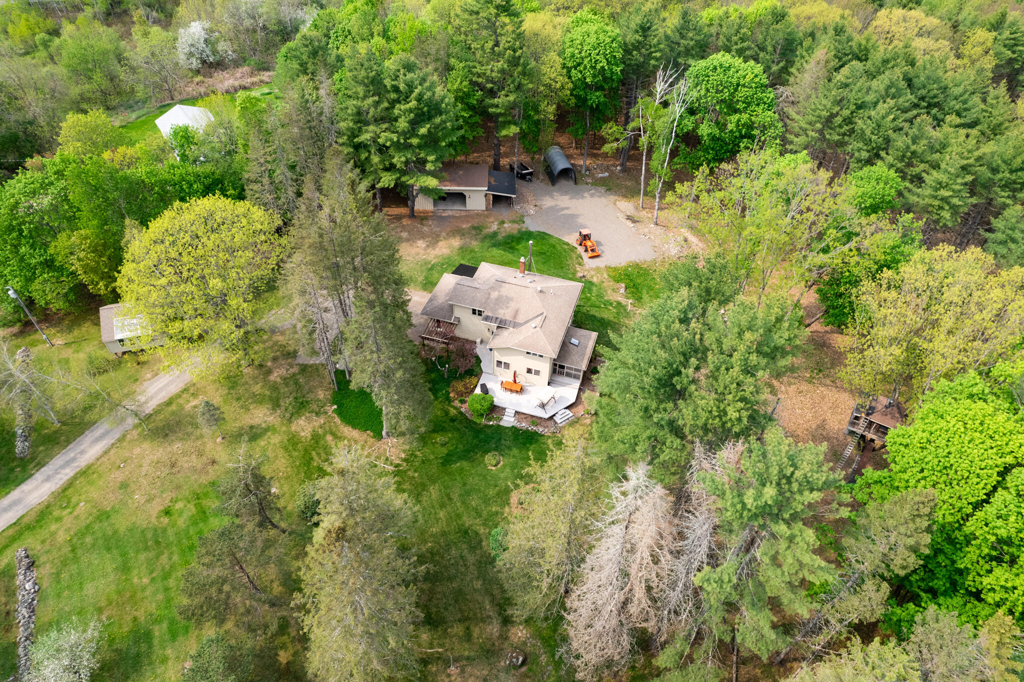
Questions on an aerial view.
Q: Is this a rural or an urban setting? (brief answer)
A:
rural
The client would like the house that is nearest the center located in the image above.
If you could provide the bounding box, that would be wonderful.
[419,242,598,388]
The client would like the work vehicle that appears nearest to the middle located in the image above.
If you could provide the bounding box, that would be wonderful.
[574,227,601,258]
